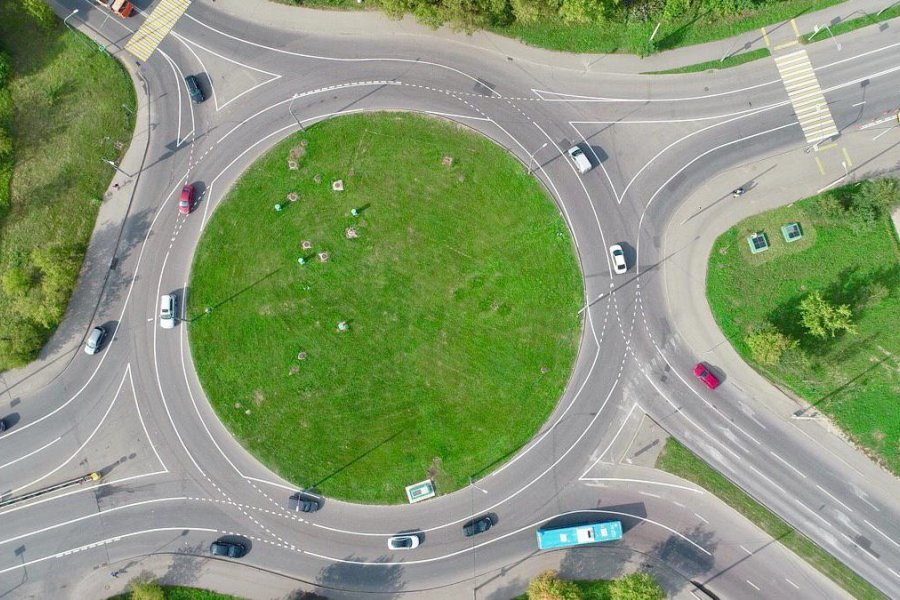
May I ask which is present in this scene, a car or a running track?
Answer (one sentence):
Of the two, only a car appears.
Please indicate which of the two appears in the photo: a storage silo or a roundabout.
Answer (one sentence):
Visible in the photo is a roundabout.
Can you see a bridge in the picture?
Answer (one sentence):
No, the scene contains no bridge.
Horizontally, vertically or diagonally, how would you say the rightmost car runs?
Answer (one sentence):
The rightmost car runs diagonally in the image.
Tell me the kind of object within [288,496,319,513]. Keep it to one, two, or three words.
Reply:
car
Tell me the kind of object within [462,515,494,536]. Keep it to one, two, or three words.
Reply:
car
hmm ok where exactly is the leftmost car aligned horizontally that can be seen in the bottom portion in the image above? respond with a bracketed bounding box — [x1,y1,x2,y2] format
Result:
[212,542,245,559]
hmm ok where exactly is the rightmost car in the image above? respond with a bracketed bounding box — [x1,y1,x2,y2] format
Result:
[693,364,720,390]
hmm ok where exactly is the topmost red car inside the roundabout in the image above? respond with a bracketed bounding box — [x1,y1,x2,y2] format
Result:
[178,185,195,214]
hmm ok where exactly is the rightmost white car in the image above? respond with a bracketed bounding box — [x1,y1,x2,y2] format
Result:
[609,245,627,276]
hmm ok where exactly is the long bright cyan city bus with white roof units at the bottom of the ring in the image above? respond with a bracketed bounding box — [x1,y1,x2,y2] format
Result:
[536,518,625,549]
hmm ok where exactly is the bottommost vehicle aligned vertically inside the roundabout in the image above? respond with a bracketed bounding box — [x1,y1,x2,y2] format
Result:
[160,295,175,328]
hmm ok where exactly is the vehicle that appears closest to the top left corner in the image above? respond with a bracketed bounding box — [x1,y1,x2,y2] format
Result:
[96,0,135,21]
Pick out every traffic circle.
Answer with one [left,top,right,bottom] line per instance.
[120,48,711,579]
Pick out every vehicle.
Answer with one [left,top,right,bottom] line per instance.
[178,185,195,214]
[160,295,175,328]
[212,542,245,559]
[462,515,494,536]
[536,518,625,549]
[570,146,592,174]
[693,364,720,390]
[288,496,319,513]
[609,245,627,276]
[388,535,419,550]
[185,76,204,105]
[85,326,105,355]
[96,0,135,21]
